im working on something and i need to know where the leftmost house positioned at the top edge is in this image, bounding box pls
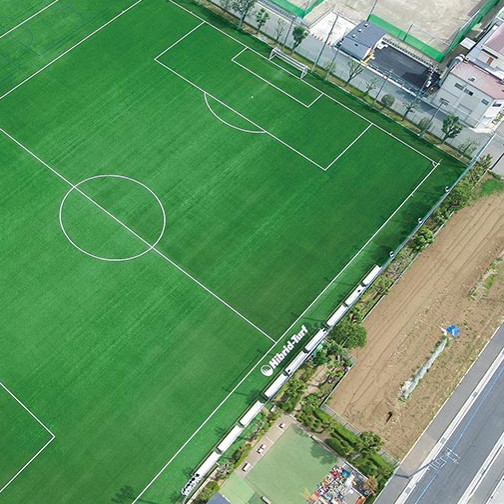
[335,22,386,74]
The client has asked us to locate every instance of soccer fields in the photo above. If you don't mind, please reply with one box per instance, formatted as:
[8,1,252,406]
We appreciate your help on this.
[0,0,467,504]
[0,0,141,97]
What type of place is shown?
sports ground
